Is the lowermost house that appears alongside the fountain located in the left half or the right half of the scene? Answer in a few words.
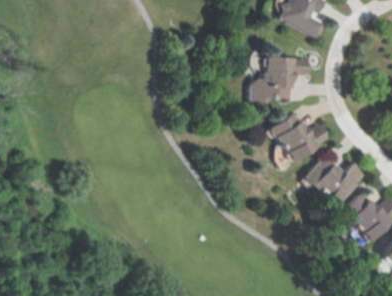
right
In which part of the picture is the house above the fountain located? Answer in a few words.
top right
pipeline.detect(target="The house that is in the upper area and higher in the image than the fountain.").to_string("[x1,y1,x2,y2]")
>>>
[274,0,324,38]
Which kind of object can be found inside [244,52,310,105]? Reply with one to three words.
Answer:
house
